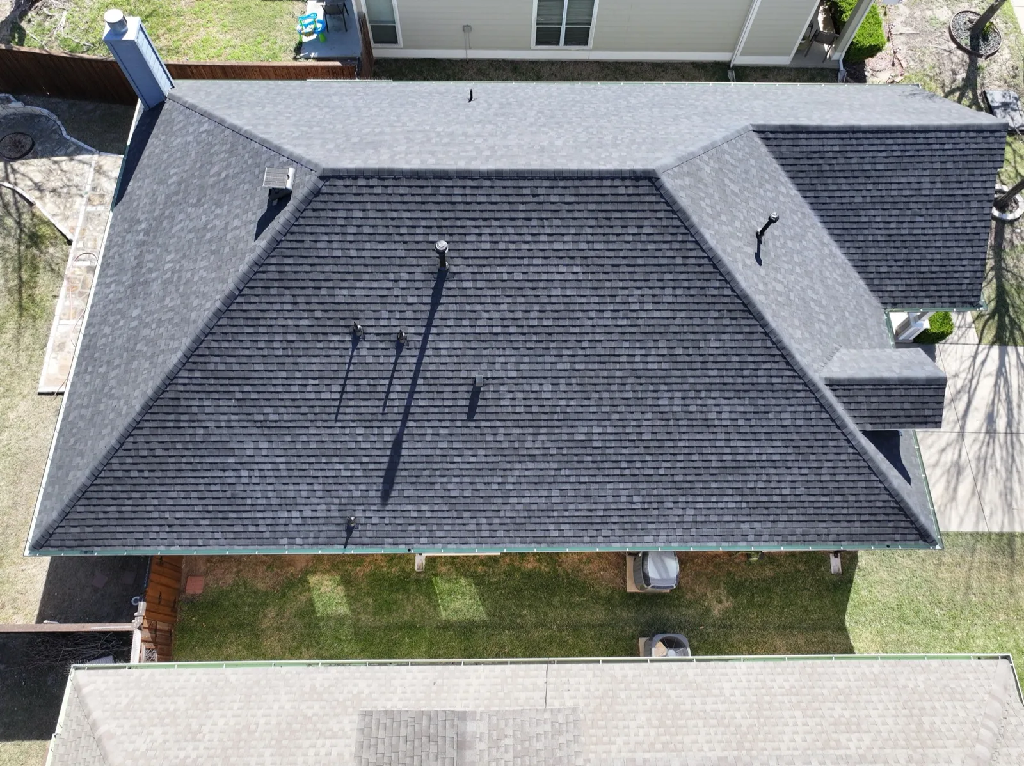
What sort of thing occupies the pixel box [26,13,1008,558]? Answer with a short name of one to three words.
house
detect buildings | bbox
[26,13,1008,558]
[345,0,877,72]
[44,653,1024,766]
